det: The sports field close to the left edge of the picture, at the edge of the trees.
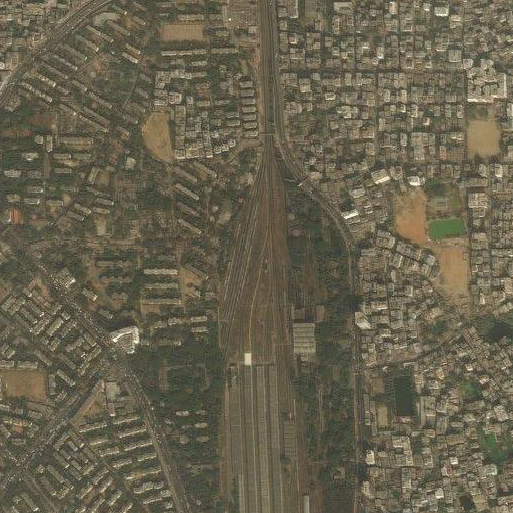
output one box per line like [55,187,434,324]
[4,370,47,402]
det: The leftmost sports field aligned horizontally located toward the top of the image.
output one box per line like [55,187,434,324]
[162,25,205,42]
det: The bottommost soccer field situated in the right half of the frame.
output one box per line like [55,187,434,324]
[428,217,467,240]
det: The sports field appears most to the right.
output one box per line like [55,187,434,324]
[467,119,501,157]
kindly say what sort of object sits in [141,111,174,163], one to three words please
sports field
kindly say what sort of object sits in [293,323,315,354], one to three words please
building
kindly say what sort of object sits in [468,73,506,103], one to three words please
building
